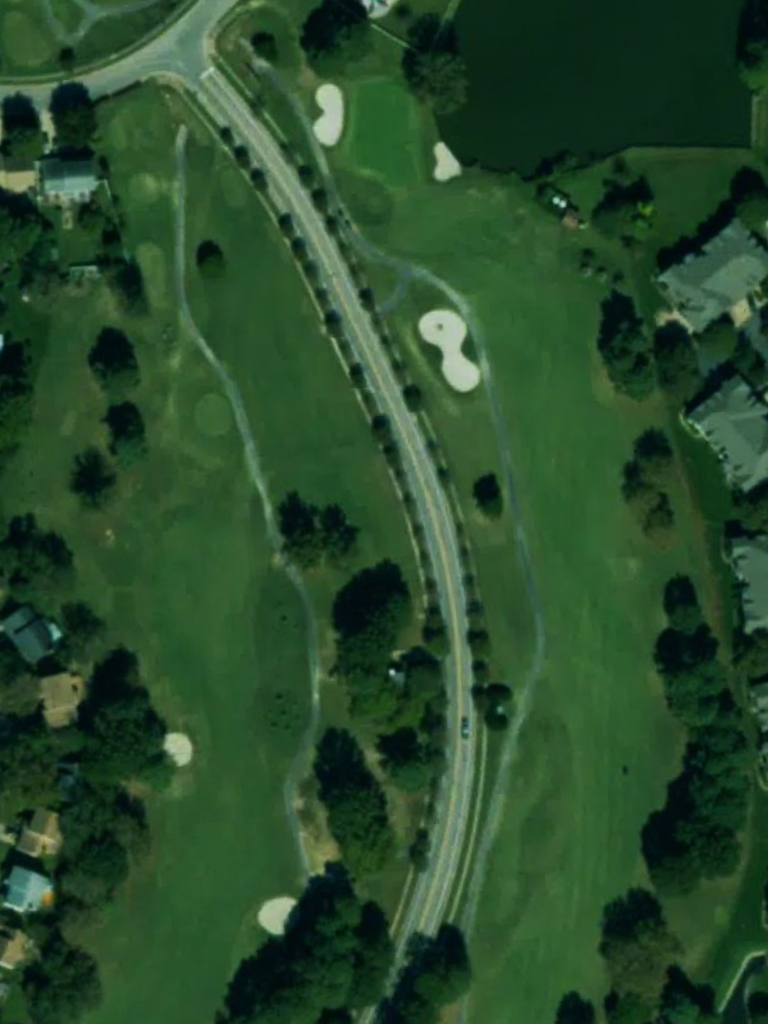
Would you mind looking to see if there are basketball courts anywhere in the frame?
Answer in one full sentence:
No, there isn't any basketball court down there.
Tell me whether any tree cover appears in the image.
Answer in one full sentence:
Yes, some tree cover is visible.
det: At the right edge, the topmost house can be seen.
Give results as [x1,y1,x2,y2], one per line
[660,219,768,327]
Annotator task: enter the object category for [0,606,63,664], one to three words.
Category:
house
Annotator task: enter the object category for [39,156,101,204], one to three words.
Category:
house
